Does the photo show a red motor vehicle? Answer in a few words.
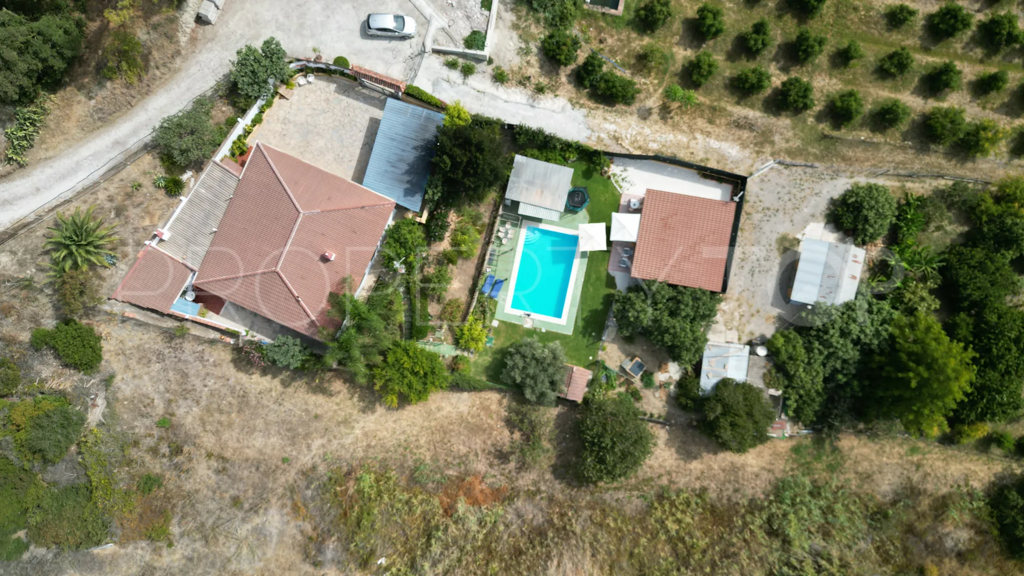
No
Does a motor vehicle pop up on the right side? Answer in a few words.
No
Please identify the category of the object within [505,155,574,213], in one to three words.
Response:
shed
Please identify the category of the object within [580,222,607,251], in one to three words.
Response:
umbrella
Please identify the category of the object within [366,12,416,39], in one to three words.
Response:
car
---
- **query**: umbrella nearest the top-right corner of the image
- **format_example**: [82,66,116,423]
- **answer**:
[610,213,640,241]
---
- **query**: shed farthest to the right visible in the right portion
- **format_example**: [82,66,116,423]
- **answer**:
[780,238,865,305]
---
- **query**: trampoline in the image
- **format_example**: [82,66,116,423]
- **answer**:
[568,187,589,212]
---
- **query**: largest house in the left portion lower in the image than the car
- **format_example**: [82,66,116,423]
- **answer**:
[191,139,396,345]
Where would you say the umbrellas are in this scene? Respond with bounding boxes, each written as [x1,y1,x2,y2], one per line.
[610,213,640,241]
[580,222,607,251]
